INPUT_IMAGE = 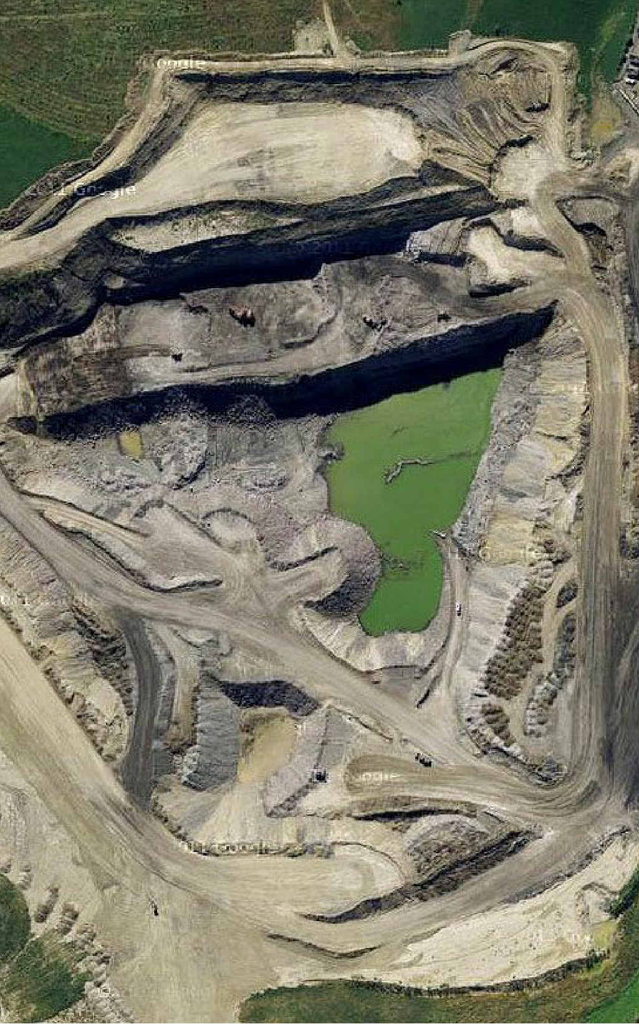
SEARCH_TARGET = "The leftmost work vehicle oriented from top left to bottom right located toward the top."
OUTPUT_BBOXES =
[230,305,251,323]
